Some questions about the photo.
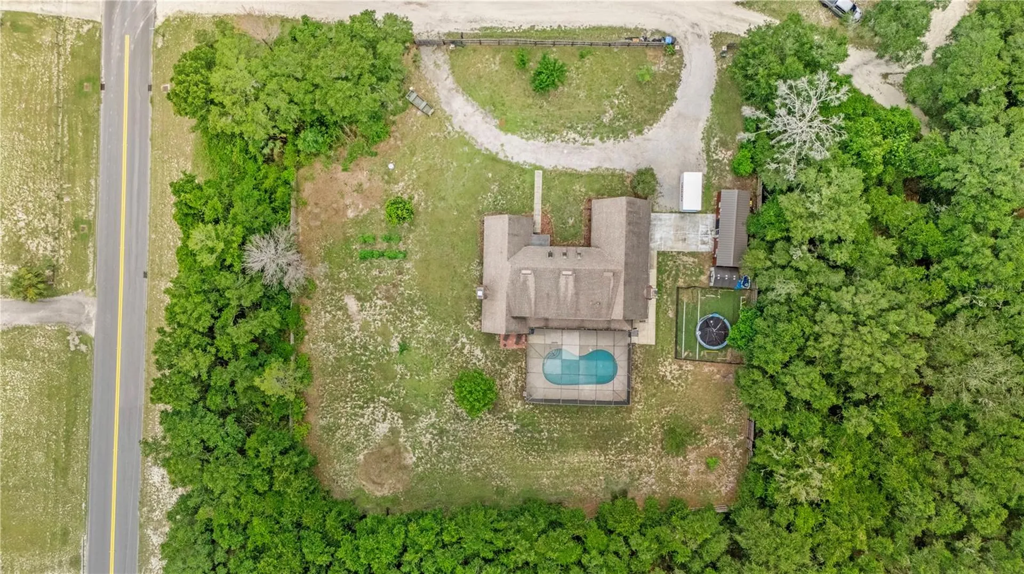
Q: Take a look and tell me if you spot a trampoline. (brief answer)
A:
Yes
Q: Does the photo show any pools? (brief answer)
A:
Yes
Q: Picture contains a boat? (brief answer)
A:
Yes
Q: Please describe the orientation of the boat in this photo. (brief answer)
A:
on a diagonal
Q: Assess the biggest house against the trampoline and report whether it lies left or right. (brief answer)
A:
left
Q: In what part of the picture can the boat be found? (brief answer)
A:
top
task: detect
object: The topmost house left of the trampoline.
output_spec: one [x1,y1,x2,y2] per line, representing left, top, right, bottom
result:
[476,197,652,334]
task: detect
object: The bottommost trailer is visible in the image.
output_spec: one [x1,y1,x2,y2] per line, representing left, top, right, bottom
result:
[678,171,703,218]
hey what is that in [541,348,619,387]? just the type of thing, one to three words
swimming pool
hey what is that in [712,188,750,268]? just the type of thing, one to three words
barn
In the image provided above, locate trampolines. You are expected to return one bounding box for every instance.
[697,312,731,348]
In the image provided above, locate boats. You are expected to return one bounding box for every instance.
[405,88,434,115]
